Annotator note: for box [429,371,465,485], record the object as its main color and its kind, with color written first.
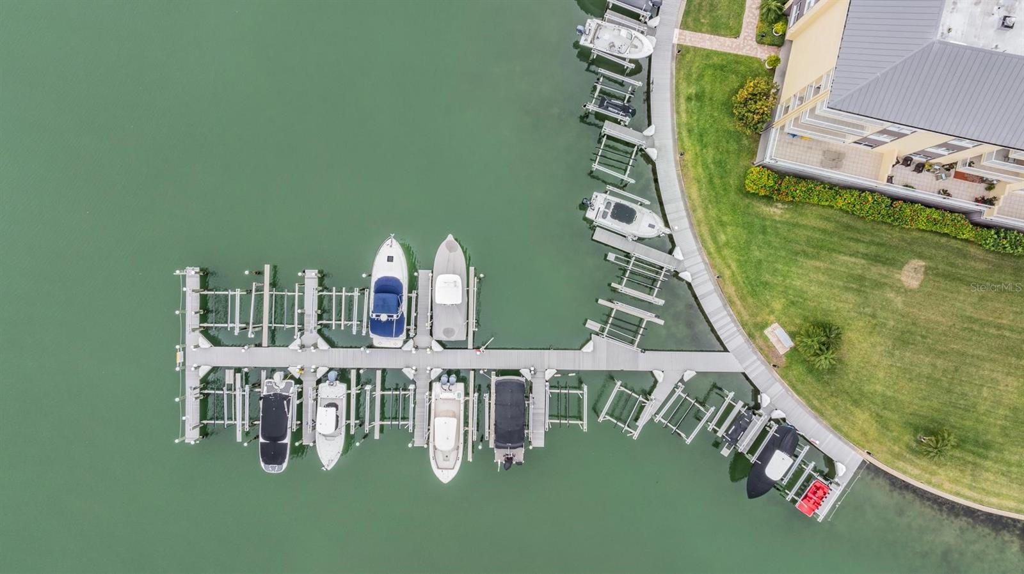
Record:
white boat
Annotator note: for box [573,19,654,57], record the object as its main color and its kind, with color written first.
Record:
white boat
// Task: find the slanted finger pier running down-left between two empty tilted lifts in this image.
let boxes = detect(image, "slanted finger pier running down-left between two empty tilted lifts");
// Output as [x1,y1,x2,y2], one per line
[635,371,684,426]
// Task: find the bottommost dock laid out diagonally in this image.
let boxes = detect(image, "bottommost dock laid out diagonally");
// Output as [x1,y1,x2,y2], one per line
[815,465,858,521]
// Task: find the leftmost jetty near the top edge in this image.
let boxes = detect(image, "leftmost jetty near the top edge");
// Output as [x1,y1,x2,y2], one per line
[606,9,656,36]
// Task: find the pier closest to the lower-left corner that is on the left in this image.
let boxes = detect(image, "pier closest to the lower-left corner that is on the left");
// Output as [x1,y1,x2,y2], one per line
[185,366,204,443]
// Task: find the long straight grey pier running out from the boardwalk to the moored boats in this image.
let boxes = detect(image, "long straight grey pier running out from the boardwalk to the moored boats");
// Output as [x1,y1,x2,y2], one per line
[186,347,744,373]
